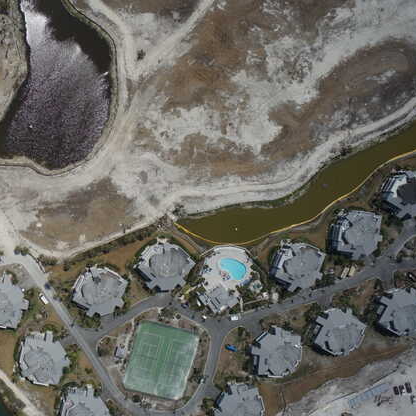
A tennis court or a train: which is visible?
tennis court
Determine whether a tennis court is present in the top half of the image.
No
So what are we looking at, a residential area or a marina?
residential area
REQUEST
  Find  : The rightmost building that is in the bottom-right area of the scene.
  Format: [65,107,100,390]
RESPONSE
[374,283,416,335]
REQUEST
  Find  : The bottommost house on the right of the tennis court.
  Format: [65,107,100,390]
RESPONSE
[217,381,267,416]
